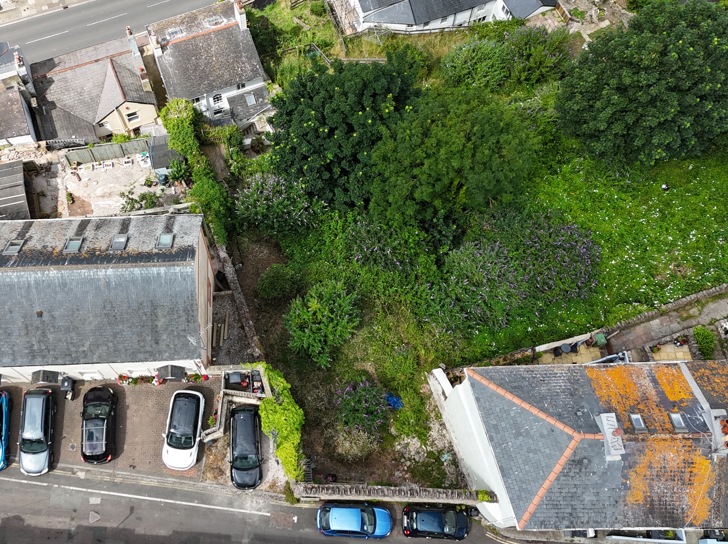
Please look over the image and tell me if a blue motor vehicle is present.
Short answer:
Yes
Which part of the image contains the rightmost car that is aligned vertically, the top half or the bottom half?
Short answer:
bottom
